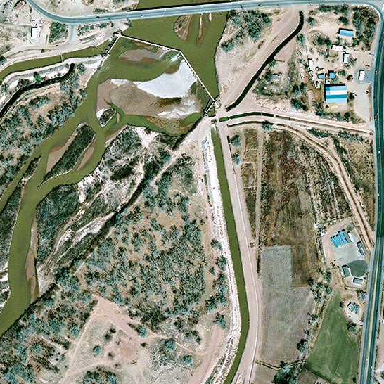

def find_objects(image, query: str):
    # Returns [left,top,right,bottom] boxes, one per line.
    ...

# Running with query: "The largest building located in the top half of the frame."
[326,84,347,103]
